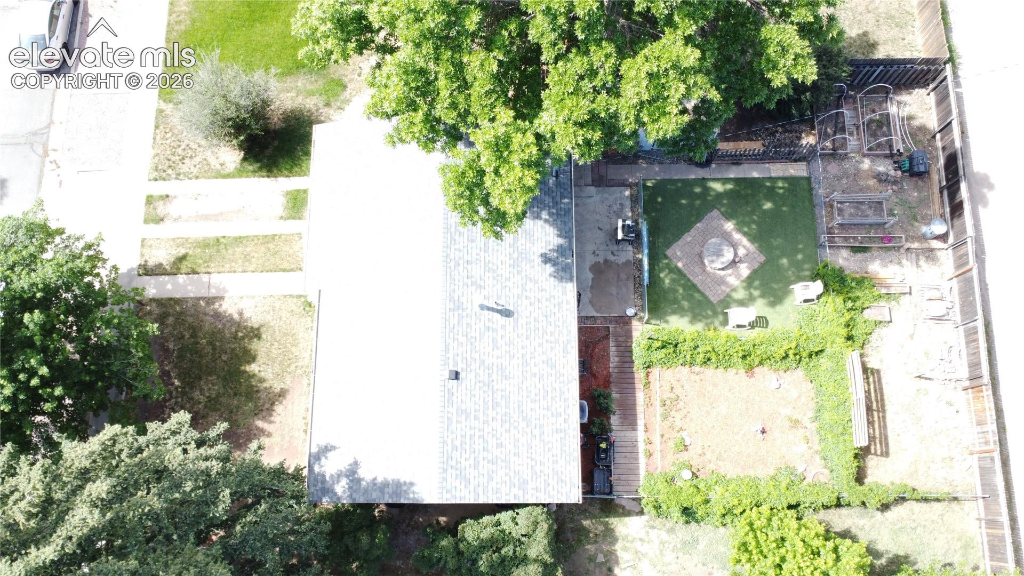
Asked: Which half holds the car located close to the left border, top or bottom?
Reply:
top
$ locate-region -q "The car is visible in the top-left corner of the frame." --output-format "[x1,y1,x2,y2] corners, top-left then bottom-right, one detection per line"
[14,0,74,71]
